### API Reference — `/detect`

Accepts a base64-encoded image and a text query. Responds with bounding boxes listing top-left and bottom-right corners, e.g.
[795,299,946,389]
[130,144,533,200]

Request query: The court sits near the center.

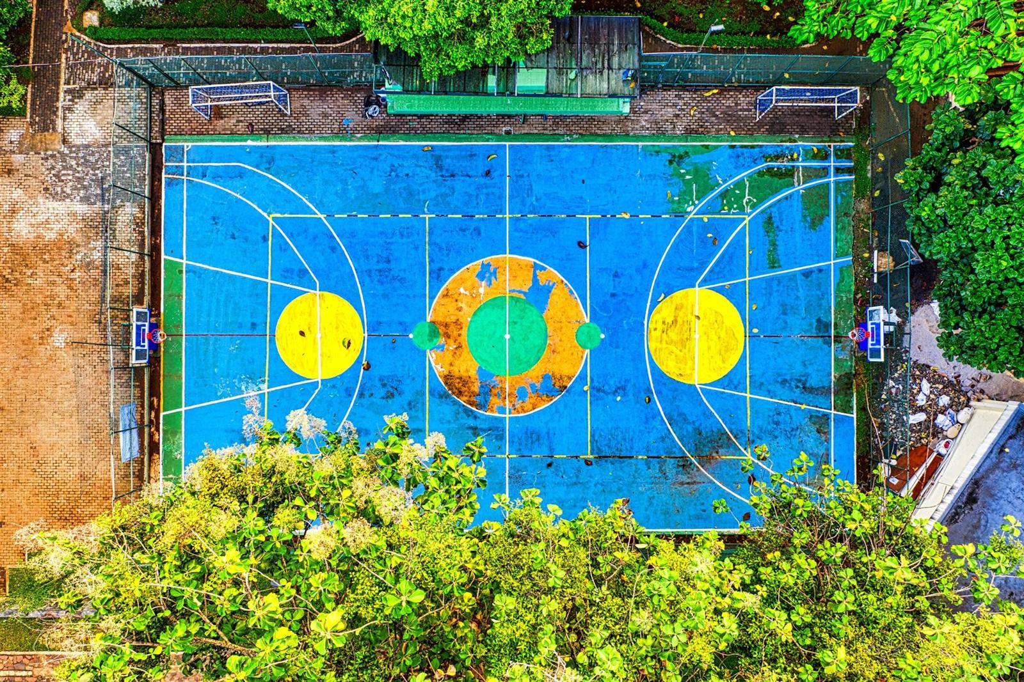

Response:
[159,133,857,534]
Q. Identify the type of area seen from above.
sports ground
